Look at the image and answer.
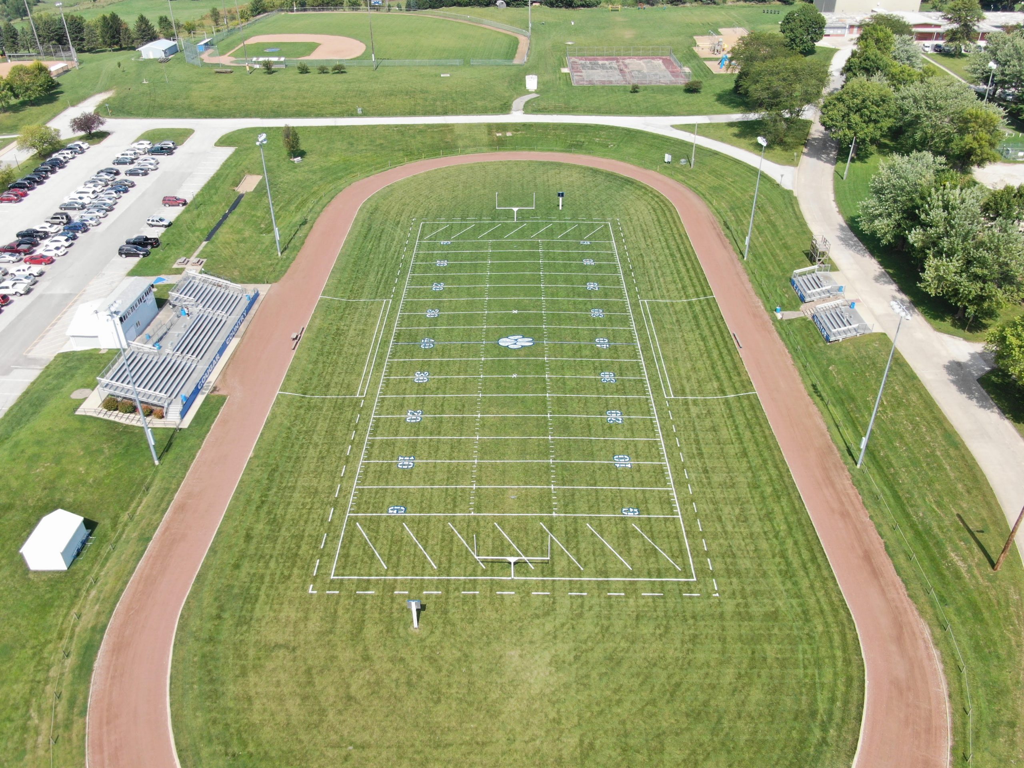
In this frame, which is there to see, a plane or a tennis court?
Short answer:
tennis court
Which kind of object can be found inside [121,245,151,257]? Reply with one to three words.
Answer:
vehicle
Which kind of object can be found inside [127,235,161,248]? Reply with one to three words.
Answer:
vehicle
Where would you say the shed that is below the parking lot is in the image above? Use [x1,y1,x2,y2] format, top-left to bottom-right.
[20,508,95,569]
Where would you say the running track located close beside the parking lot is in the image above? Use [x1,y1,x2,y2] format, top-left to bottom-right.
[87,152,946,768]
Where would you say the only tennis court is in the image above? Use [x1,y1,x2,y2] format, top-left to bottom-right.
[568,56,689,86]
